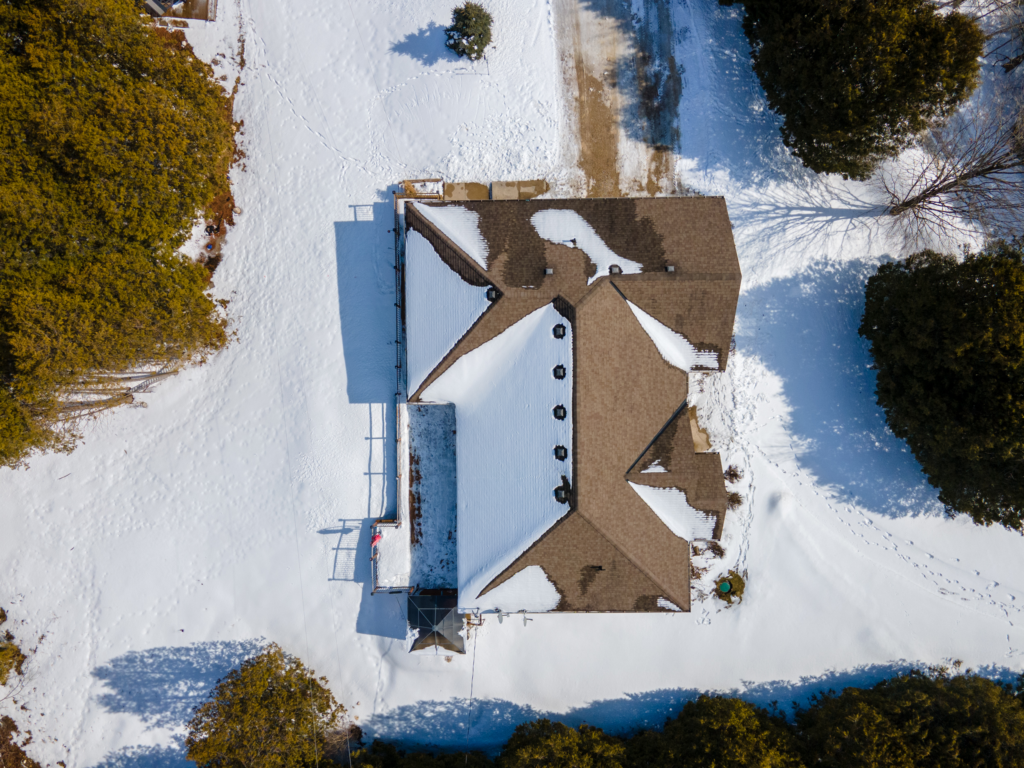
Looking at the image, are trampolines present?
No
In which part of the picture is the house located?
center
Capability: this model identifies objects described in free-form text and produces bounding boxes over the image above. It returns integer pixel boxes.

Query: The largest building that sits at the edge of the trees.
[403,197,741,615]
